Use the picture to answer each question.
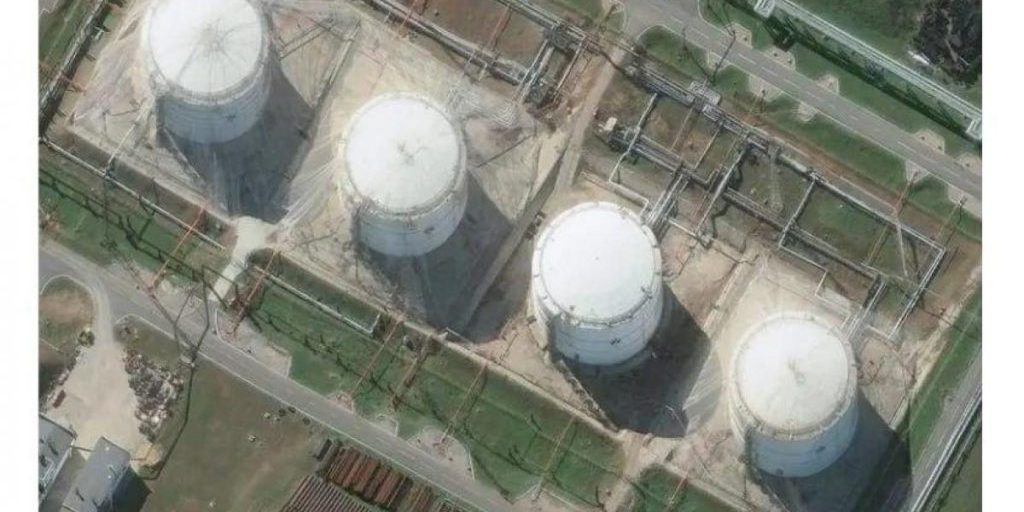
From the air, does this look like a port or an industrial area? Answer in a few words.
industrial area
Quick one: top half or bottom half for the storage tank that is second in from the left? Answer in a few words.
top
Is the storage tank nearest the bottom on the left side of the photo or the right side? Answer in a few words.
right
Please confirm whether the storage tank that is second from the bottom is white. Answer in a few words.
Yes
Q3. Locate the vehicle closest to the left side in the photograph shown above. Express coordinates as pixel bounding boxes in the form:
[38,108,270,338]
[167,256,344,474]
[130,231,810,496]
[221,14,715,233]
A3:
[50,387,66,407]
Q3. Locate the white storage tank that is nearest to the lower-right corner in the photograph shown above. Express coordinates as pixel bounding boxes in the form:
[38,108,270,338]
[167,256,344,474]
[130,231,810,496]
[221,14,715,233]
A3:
[733,311,864,481]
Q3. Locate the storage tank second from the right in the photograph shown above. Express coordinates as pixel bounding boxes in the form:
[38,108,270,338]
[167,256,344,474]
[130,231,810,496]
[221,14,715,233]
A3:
[532,200,668,370]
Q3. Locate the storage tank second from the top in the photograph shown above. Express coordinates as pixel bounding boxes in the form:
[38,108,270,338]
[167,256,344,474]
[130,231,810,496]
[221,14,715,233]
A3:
[340,92,473,259]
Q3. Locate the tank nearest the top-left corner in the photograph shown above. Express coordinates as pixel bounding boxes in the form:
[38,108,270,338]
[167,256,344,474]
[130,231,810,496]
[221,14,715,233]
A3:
[139,0,282,147]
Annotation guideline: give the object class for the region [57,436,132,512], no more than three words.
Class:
building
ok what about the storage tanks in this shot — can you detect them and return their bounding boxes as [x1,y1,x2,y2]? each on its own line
[532,200,668,370]
[733,311,864,481]
[139,0,282,147]
[340,92,473,259]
